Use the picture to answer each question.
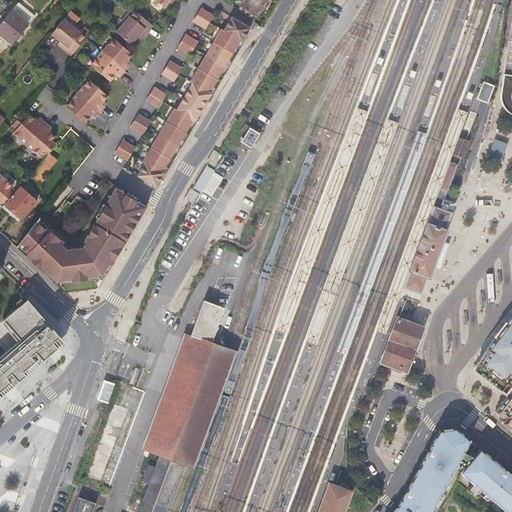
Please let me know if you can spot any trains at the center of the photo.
Yes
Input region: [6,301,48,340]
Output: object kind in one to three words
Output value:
building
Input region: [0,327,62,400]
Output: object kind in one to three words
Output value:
building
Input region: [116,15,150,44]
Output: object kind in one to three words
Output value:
house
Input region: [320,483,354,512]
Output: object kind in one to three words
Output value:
house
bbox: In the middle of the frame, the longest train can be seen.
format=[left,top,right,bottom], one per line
[224,153,312,392]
